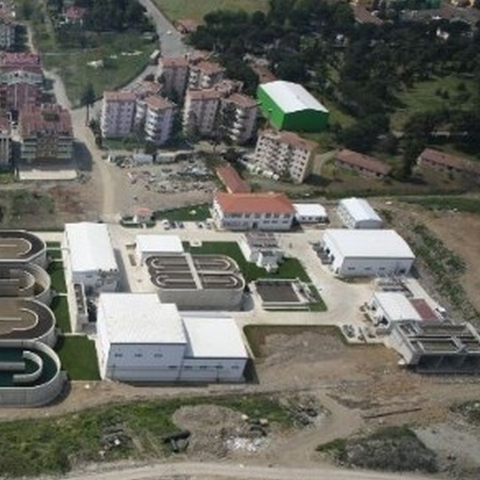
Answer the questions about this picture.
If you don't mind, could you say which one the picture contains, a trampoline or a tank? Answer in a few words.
tank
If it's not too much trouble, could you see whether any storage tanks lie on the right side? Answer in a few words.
Yes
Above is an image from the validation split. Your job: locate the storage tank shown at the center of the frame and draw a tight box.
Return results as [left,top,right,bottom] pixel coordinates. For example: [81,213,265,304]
[142,246,247,310]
